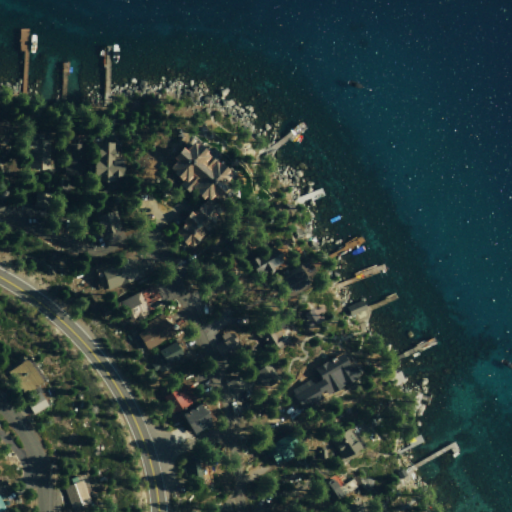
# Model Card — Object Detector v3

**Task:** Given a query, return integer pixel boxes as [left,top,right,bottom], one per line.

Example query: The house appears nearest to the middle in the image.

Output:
[254,252,286,274]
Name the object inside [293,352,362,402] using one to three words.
house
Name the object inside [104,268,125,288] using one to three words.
house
